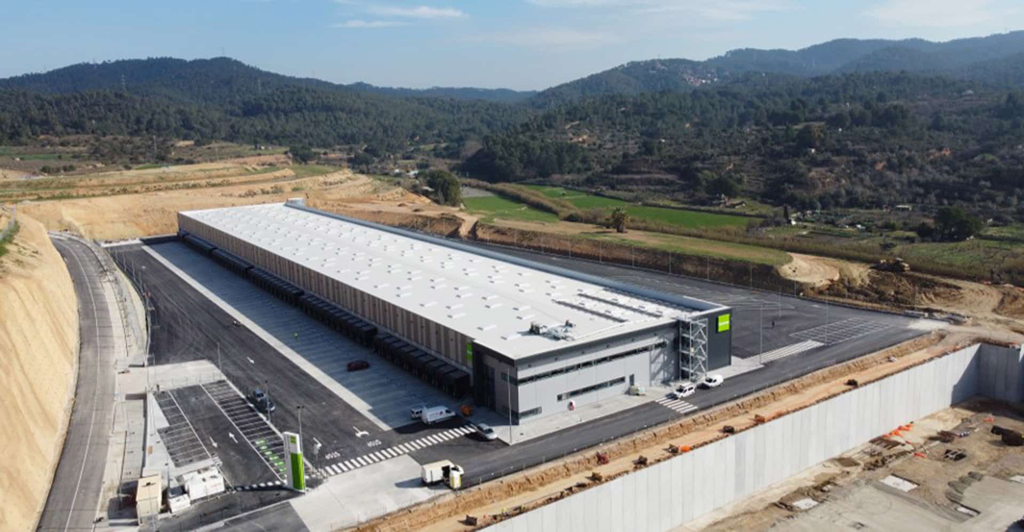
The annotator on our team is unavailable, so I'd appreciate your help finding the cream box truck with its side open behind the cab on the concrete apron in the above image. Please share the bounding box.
[417,446,468,481]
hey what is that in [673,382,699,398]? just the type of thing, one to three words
vehicle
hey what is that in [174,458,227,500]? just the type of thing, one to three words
building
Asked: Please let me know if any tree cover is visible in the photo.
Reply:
Yes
